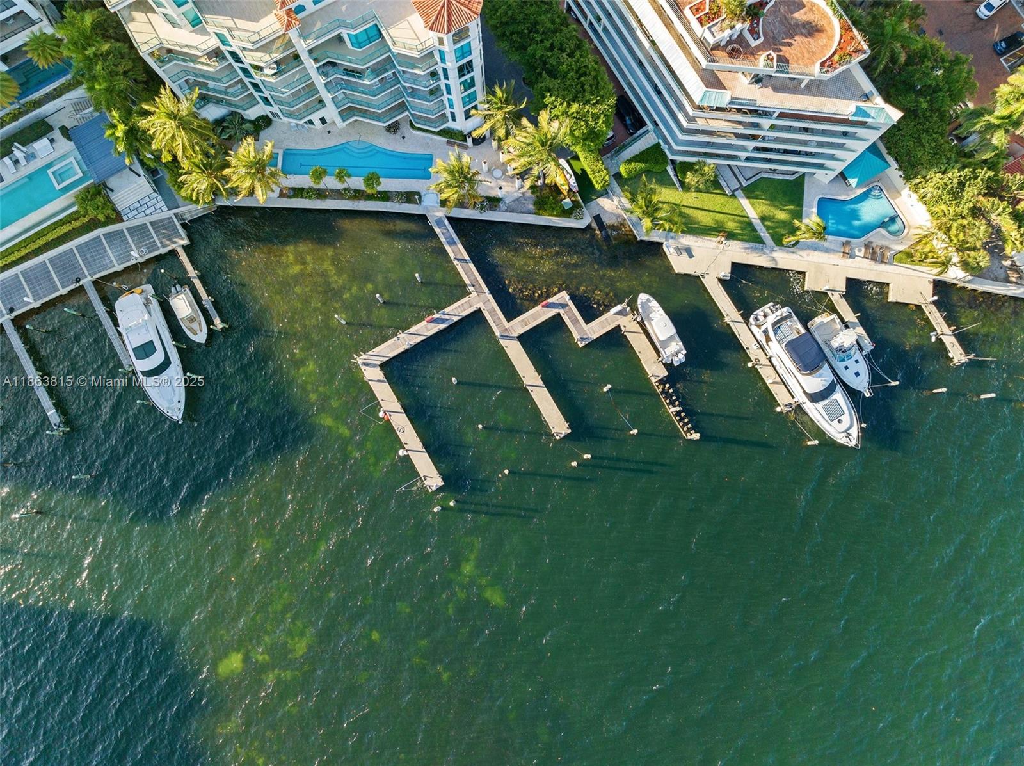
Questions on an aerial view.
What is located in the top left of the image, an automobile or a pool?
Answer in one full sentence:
There is a pool in the top left of the image.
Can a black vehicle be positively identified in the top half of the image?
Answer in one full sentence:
Yes, in the top half of the image there is a black vehicle.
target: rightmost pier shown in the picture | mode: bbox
[920,305,967,365]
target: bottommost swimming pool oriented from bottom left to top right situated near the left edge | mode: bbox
[0,150,99,254]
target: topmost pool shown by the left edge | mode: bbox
[0,54,73,109]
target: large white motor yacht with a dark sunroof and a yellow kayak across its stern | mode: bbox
[114,286,189,426]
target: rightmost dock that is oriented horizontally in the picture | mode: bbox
[662,243,934,307]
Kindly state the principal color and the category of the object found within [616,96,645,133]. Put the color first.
black car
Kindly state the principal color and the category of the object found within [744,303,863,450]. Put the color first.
white boat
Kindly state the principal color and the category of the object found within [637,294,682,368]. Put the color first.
white boat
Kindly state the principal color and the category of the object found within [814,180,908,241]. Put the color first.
blue swimming pool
